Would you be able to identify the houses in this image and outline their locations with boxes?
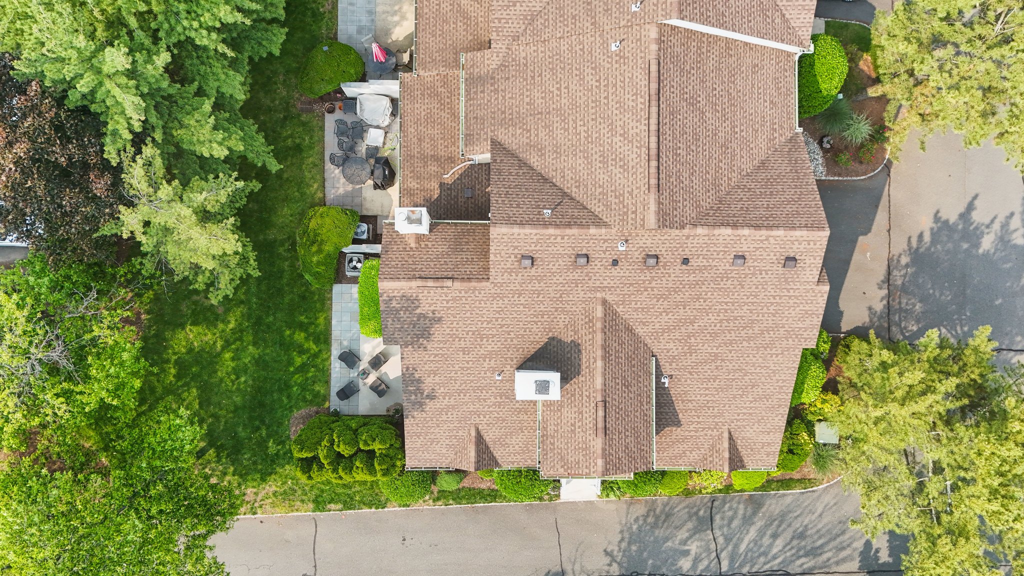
[379,0,831,481]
